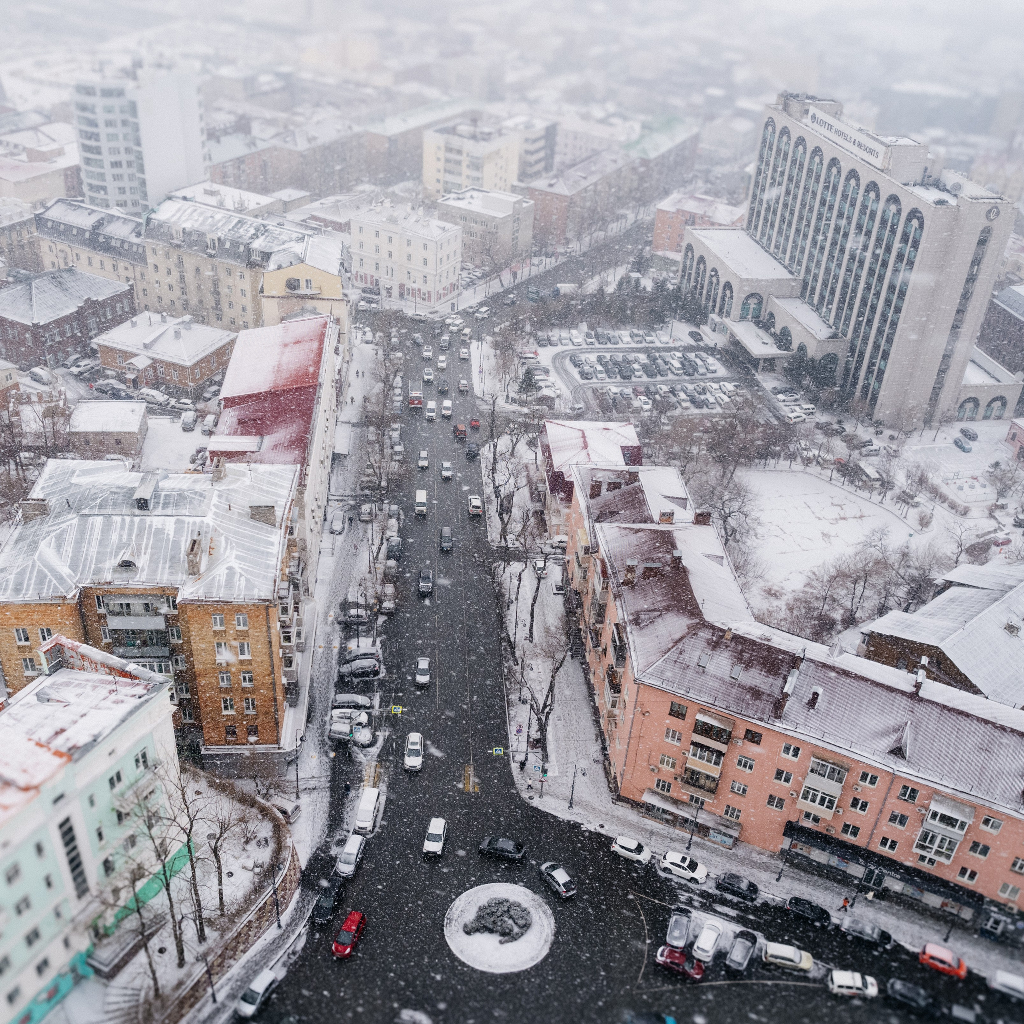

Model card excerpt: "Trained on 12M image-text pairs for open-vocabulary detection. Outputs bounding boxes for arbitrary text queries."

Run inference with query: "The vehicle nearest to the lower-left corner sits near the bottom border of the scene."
[232,958,280,1024]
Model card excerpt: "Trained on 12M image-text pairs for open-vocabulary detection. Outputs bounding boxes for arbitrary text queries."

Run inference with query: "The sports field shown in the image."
[740,469,933,592]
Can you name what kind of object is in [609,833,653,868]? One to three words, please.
car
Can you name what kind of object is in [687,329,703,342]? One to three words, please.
vehicle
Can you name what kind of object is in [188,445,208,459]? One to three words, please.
car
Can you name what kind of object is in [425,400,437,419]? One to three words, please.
vehicle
